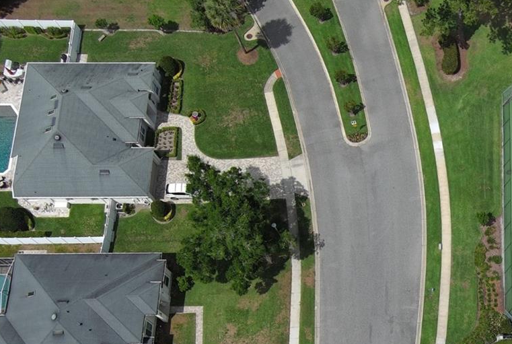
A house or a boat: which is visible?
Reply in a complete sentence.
The one in the frame is a house.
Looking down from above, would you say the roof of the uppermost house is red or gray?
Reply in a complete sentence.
The roof of the uppermost house is gray.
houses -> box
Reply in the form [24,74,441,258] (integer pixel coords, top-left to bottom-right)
[11,61,164,205]
[0,251,176,344]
